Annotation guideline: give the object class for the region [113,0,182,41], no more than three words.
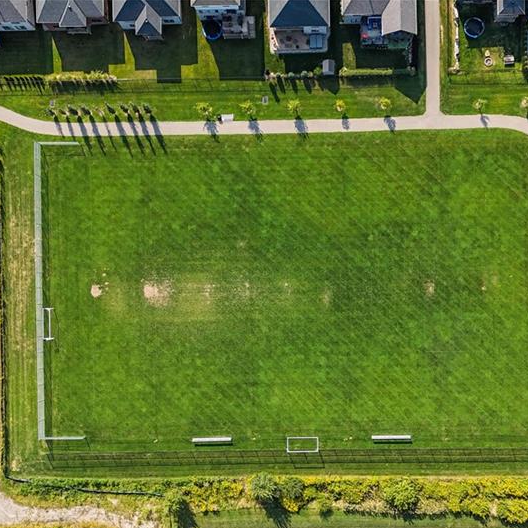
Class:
house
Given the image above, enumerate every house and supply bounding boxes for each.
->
[191,0,247,41]
[342,0,418,47]
[36,0,109,35]
[270,0,328,53]
[0,0,34,48]
[113,0,182,41]
[455,0,526,23]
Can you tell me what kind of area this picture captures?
sports ground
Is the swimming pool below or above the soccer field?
above it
